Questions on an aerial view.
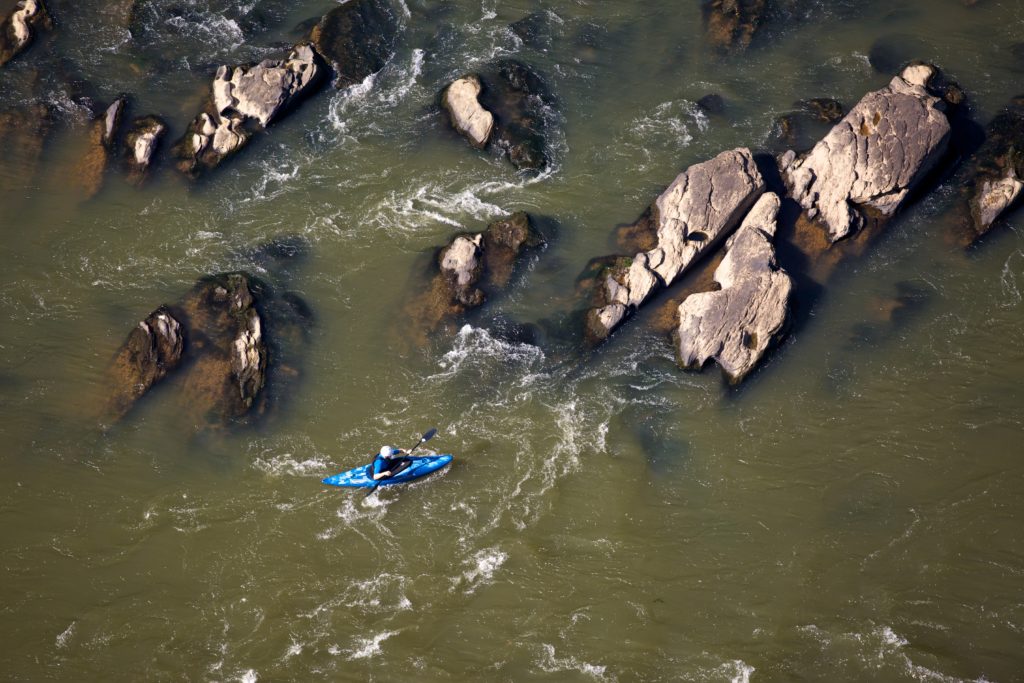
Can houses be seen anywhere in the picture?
No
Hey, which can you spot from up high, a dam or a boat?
boat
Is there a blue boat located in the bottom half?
Yes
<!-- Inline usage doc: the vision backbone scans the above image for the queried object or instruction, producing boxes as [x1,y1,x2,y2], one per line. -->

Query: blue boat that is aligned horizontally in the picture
[322,456,452,487]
